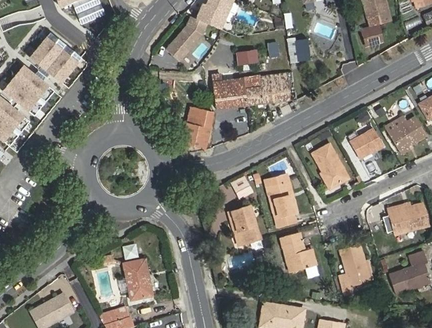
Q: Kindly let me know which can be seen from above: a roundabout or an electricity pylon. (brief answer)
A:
roundabout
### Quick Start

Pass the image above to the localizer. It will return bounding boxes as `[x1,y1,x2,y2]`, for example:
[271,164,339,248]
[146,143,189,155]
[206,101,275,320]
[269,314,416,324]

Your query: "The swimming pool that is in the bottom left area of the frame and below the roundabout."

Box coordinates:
[96,270,114,298]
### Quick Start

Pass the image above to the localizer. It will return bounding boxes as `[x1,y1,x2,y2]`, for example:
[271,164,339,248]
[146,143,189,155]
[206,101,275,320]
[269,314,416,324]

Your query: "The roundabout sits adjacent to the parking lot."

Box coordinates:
[77,125,168,217]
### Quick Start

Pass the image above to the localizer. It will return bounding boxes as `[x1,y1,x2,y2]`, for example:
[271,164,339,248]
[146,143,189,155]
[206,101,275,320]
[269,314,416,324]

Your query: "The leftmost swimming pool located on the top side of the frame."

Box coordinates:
[190,42,211,61]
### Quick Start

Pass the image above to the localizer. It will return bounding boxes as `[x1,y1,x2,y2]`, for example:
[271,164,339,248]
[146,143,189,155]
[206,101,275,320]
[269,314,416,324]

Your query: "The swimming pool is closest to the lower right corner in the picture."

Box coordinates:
[230,252,256,269]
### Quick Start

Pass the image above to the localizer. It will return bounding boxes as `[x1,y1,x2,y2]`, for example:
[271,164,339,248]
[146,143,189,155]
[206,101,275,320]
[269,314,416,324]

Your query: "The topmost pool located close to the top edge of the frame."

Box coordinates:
[236,10,259,26]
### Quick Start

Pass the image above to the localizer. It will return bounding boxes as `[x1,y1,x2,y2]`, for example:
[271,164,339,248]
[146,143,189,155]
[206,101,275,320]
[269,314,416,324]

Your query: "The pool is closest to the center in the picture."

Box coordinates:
[268,158,289,173]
